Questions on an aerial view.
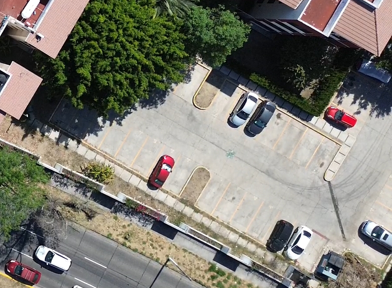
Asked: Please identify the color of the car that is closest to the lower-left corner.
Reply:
red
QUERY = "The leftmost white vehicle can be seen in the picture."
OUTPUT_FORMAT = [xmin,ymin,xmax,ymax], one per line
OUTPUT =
[33,244,72,273]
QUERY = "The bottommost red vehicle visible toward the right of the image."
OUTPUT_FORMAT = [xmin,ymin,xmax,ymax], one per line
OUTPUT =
[322,105,356,128]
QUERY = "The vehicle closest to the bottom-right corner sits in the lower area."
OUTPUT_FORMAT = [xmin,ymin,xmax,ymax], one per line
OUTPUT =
[355,219,392,250]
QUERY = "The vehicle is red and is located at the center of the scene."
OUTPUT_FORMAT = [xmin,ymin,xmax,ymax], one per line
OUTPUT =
[146,154,174,190]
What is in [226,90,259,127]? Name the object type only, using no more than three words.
car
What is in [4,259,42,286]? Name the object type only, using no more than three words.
car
